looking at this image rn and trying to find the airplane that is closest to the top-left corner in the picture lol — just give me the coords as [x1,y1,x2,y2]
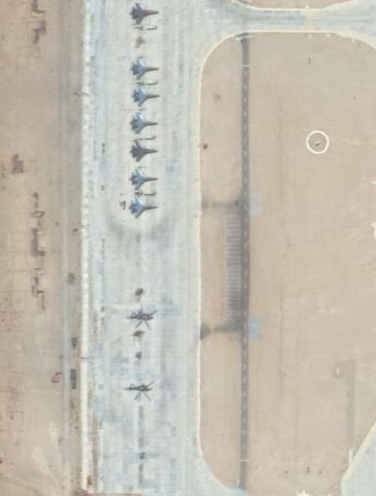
[131,4,159,22]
